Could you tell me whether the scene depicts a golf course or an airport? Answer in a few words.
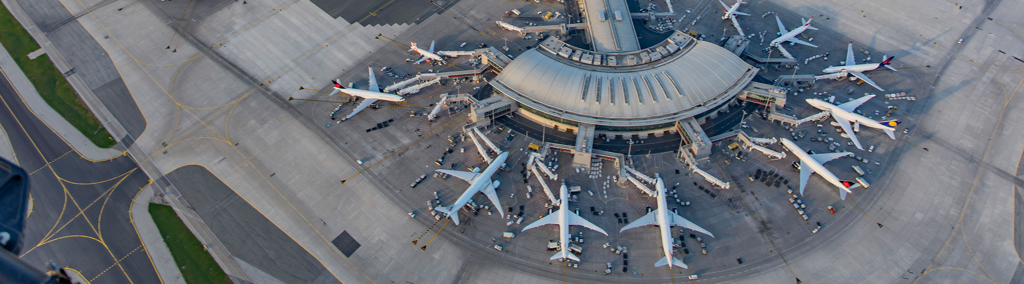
airport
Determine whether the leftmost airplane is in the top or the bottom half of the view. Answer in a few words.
top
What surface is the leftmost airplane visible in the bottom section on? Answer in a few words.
apron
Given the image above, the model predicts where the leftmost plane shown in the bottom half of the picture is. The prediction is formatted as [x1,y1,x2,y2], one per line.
[436,152,509,223]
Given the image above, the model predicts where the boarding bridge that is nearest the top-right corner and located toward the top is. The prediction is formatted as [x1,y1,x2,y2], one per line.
[812,72,851,84]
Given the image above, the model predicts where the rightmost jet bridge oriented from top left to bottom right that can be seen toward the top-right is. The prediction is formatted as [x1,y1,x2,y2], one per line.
[773,41,796,59]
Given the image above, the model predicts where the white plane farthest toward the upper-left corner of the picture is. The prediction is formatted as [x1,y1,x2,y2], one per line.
[330,63,405,118]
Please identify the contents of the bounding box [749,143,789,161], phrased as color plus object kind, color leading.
white jet bridge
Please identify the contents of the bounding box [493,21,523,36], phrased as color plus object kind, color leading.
white jet bridge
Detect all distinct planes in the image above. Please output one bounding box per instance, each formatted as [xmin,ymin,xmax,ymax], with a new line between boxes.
[408,40,442,63]
[522,184,608,258]
[330,63,405,118]
[720,0,750,19]
[619,176,709,263]
[806,94,901,149]
[436,152,509,223]
[780,139,859,199]
[769,12,820,47]
[822,39,895,90]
